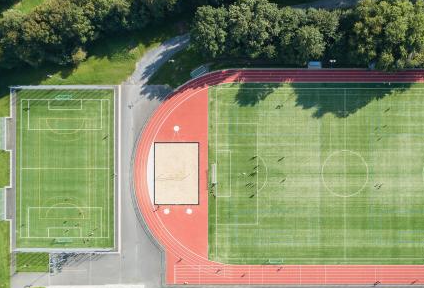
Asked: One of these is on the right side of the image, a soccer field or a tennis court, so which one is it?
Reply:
soccer field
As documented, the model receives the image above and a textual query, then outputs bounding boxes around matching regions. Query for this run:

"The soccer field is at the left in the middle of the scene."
[6,86,118,253]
